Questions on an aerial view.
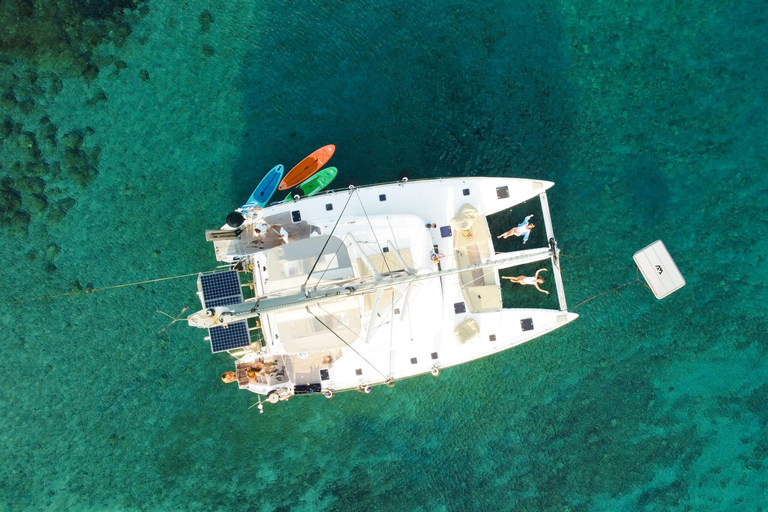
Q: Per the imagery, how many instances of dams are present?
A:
0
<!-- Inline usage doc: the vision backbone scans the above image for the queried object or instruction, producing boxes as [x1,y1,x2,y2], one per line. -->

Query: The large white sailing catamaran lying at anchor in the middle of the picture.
[149,177,578,413]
